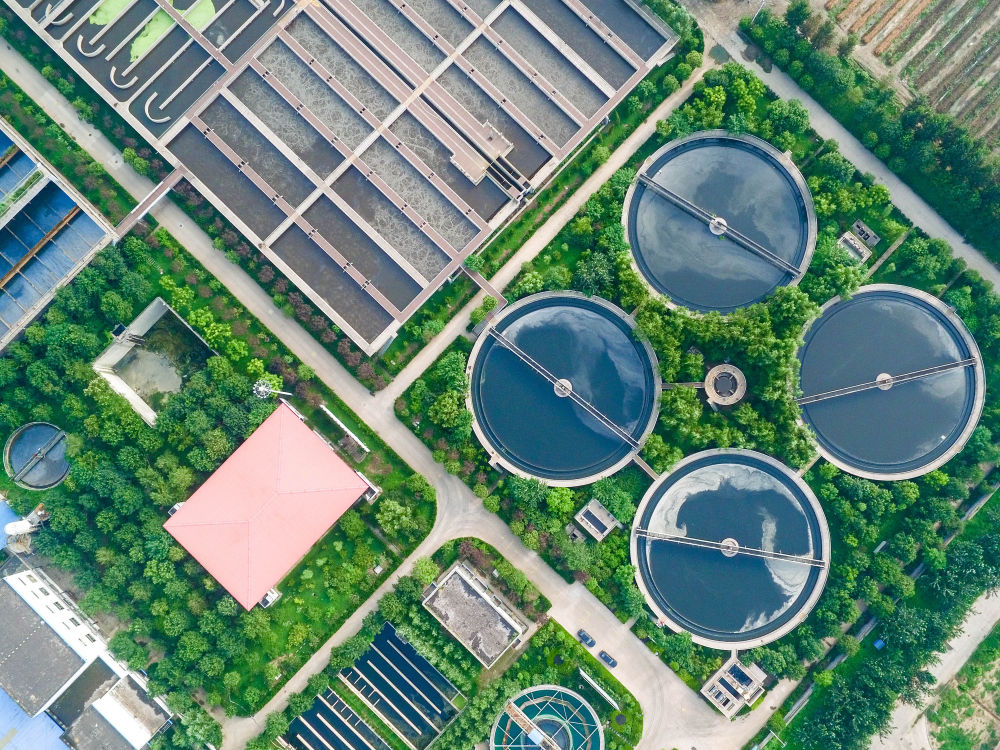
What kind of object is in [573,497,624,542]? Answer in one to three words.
building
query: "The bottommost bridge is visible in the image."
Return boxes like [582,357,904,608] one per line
[634,528,826,567]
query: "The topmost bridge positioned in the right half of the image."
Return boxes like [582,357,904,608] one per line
[637,175,803,275]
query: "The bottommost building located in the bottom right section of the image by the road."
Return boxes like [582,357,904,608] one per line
[699,658,766,720]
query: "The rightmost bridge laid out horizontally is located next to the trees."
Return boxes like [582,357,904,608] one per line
[802,358,976,402]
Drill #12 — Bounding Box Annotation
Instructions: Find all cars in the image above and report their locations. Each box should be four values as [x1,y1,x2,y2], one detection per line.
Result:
[575,627,597,648]
[597,647,619,669]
